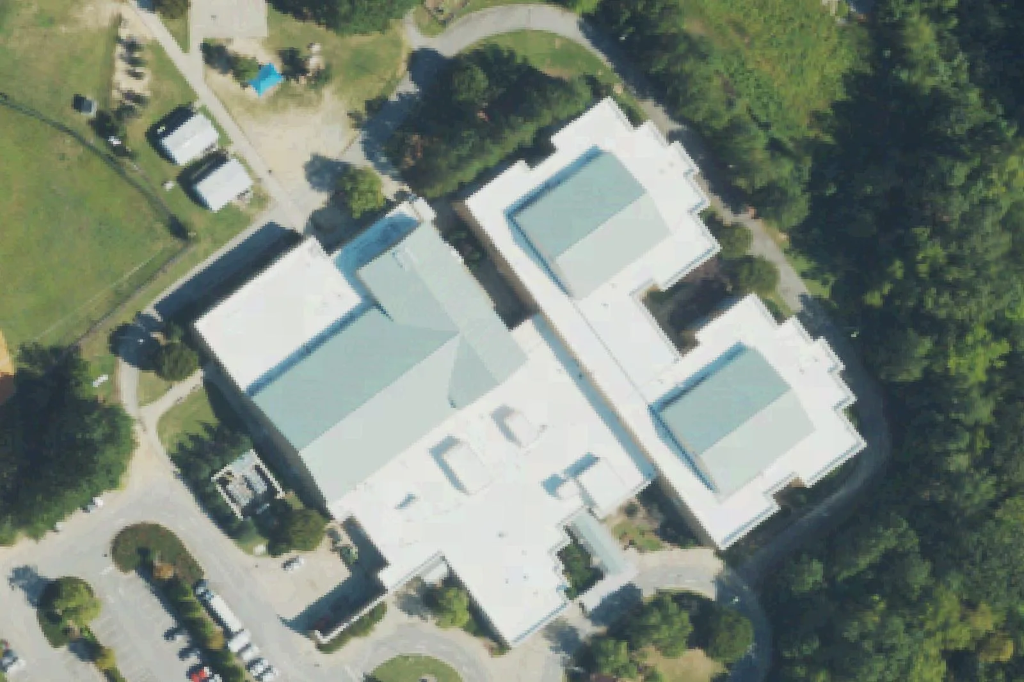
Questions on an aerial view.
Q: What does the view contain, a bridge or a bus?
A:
bus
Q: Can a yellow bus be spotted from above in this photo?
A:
No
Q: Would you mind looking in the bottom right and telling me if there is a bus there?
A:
No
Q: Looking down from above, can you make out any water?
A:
No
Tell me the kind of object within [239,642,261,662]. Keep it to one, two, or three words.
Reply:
car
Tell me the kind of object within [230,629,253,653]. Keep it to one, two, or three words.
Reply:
vehicle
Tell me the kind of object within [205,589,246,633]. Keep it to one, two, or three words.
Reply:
bus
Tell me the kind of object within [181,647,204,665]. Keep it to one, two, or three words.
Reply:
car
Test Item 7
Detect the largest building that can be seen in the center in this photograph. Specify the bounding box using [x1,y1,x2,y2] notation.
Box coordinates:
[184,94,867,646]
